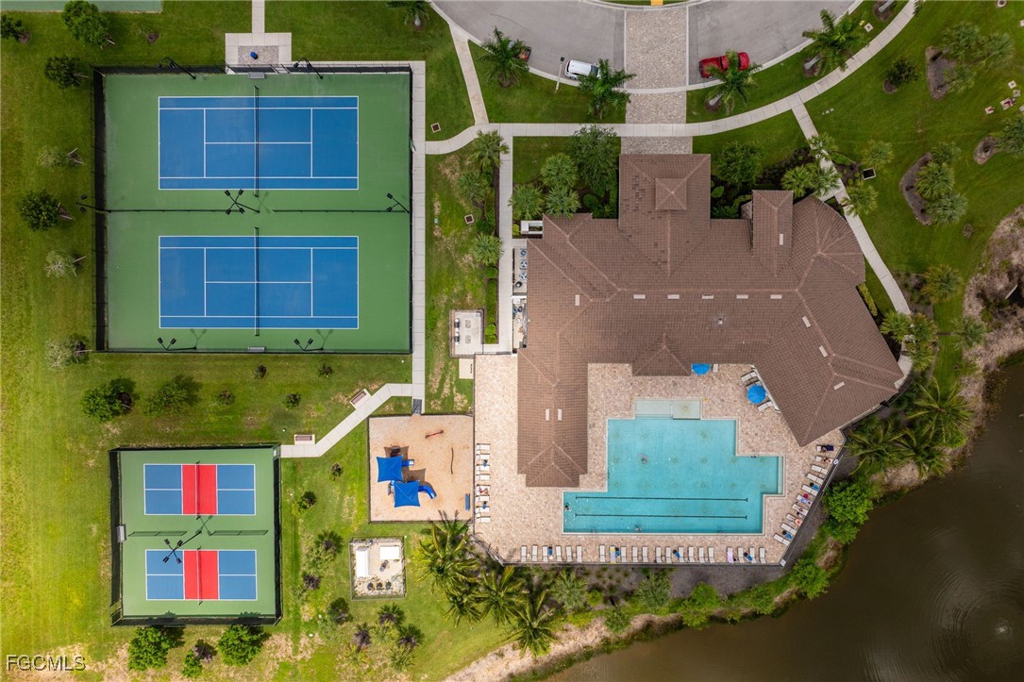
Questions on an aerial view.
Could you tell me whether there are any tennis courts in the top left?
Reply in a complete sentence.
Yes, a tennis court appears in the top left.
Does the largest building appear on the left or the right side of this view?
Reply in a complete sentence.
The largest building appears in the right half of the scene.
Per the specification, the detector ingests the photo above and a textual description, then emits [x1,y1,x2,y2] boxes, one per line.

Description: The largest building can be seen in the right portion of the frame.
[517,152,905,488]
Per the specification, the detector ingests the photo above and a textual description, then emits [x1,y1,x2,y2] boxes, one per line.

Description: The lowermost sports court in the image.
[122,532,275,617]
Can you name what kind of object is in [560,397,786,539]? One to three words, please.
swimming pool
